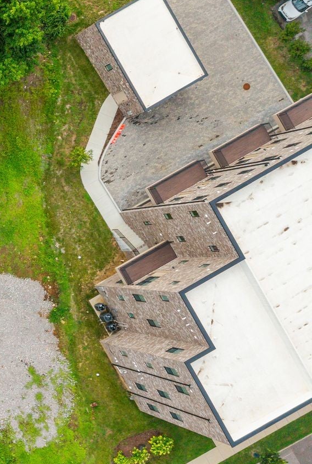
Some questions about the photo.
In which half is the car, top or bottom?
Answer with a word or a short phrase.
top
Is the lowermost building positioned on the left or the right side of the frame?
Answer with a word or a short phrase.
right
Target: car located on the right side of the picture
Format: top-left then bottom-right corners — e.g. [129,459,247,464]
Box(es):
[270,0,312,29]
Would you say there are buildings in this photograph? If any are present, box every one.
[76,0,209,118]
[96,87,312,448]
